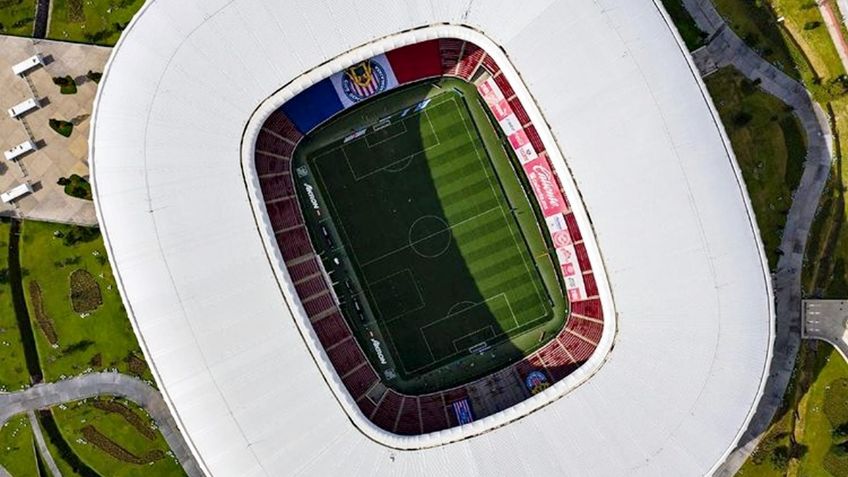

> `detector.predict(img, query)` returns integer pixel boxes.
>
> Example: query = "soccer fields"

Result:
[292,76,569,396]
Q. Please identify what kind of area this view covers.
sports ground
